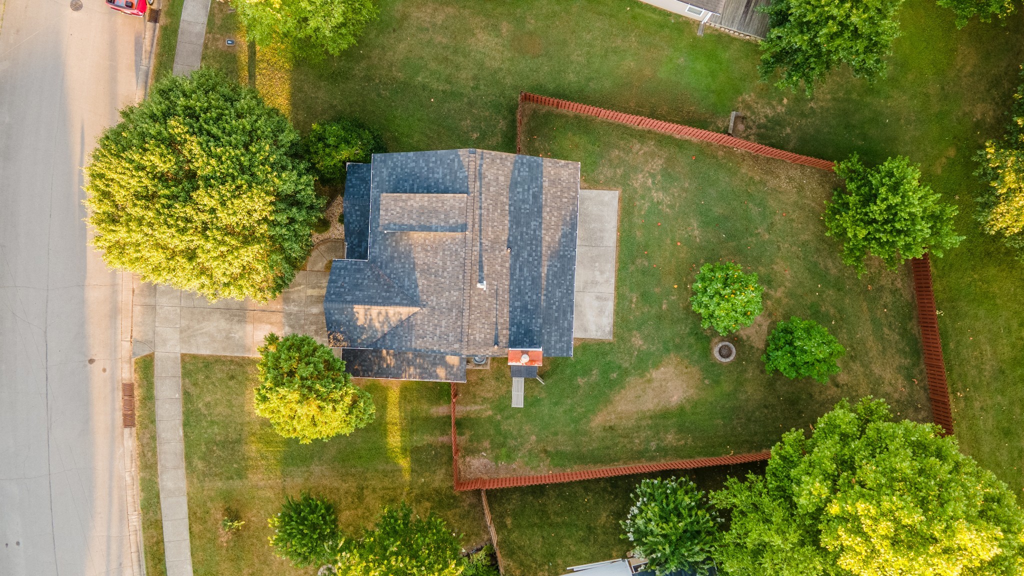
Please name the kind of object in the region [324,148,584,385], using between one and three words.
house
